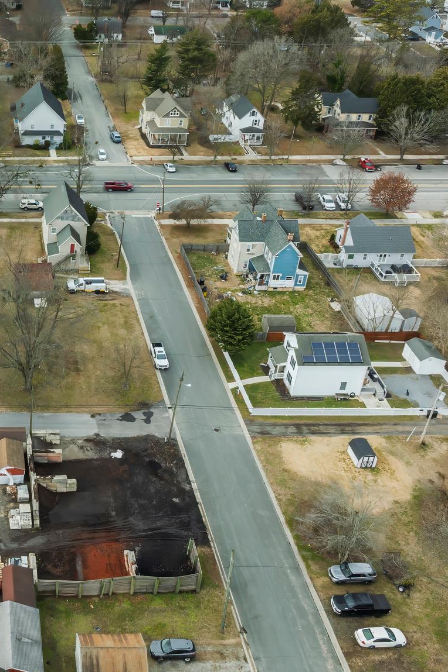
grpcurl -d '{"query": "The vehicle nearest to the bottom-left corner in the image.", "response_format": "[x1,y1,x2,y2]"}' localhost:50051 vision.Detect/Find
[145,633,203,663]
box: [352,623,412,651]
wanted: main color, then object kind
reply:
white car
